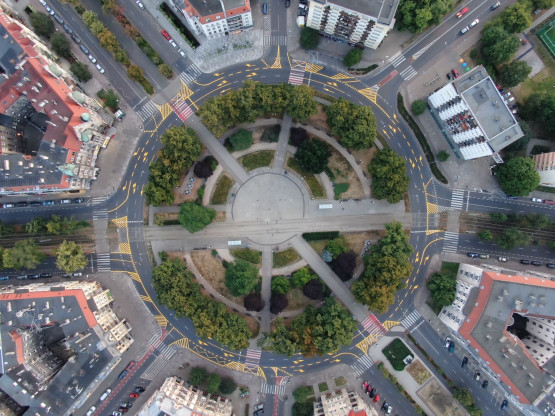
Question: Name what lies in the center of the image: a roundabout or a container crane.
roundabout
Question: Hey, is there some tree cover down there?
Yes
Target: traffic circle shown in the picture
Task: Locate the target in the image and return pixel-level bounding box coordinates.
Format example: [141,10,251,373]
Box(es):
[107,36,449,382]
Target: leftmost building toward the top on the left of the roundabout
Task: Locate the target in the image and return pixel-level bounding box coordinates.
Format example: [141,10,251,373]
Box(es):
[0,7,114,196]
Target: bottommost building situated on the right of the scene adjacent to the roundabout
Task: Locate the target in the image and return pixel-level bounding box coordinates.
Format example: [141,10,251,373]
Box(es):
[319,387,371,416]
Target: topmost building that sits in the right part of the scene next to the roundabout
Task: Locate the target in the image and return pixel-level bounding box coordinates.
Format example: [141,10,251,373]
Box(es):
[306,0,399,48]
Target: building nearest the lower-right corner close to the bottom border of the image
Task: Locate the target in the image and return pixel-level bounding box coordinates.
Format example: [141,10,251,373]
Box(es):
[437,263,555,416]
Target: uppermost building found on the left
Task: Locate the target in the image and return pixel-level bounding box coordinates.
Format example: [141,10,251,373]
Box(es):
[173,0,253,39]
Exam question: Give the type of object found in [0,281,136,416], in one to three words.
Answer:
building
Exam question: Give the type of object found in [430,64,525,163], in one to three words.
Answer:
building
